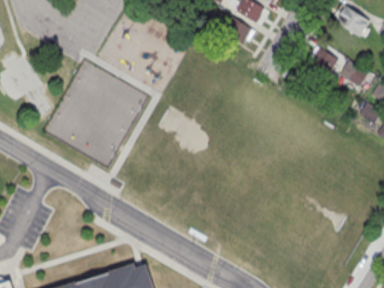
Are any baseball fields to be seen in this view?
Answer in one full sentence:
Yes, a baseball field is visible in the scene.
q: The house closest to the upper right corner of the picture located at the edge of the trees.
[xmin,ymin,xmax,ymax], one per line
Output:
[336,6,370,37]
